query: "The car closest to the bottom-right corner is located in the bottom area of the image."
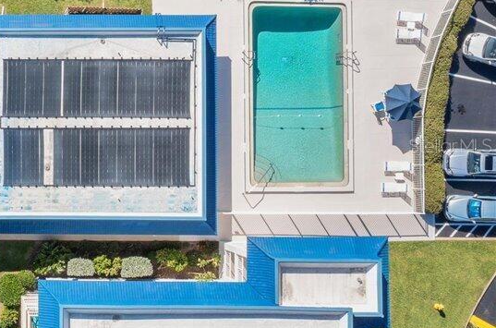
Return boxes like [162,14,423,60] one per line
[442,194,496,225]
